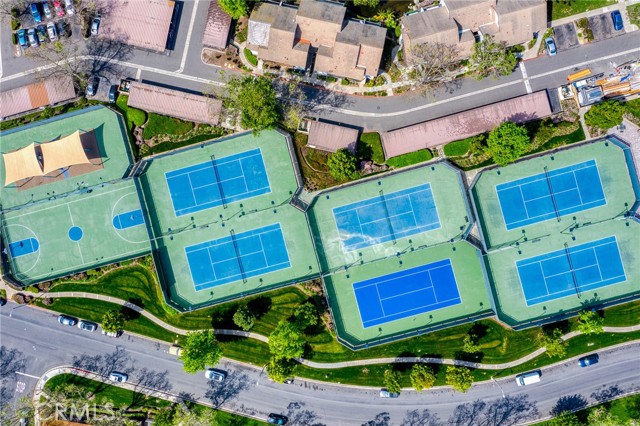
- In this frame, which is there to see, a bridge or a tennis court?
tennis court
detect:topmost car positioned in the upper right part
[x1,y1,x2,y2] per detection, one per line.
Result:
[609,8,624,32]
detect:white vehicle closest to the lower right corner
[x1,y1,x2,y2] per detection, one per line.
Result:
[517,372,541,385]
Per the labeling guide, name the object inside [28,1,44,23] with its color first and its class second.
blue car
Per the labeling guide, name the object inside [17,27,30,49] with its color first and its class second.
blue vehicle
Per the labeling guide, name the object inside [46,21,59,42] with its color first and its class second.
white vehicle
